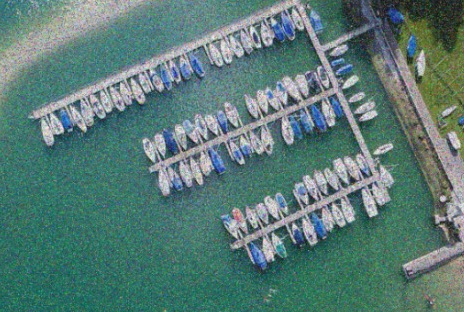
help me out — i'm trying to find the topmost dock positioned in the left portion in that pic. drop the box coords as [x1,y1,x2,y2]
[31,0,299,126]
